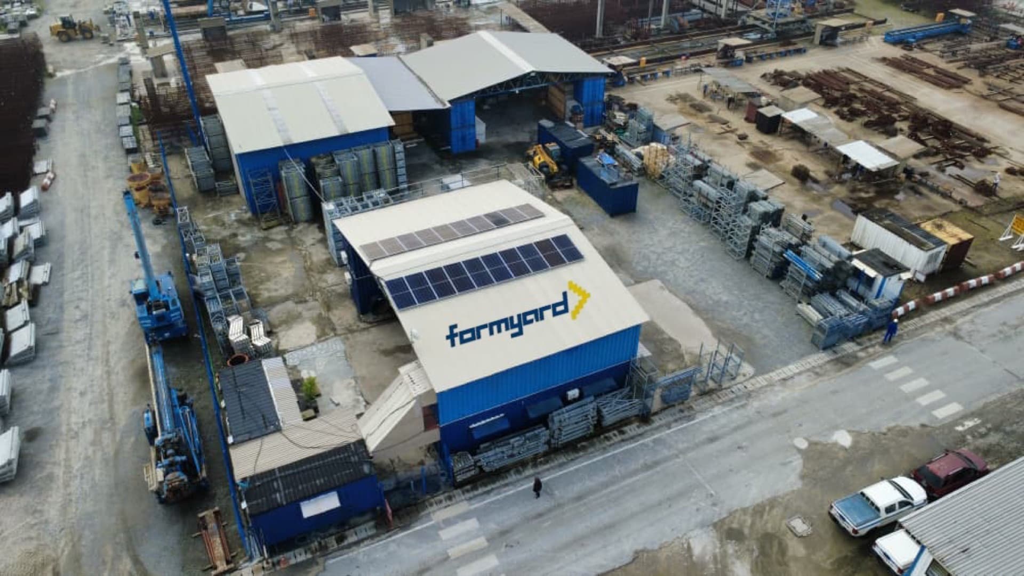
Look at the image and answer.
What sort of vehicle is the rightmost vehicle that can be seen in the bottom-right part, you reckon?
automobile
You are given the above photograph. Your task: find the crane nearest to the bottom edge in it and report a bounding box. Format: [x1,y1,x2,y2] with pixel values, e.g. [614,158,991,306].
[135,336,209,503]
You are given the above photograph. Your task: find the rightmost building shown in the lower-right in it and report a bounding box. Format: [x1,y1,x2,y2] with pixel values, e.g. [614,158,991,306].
[893,459,1024,576]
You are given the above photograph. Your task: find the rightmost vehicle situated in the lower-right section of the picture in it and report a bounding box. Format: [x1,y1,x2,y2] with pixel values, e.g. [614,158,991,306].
[905,445,988,497]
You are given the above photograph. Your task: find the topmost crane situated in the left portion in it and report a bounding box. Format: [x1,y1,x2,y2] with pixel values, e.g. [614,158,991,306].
[121,188,188,347]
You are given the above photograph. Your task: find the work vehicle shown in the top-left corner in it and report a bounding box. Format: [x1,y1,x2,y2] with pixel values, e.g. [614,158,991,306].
[46,11,106,42]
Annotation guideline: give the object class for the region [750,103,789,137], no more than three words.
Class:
shed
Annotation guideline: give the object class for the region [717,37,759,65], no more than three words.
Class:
shed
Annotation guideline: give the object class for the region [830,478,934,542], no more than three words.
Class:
truck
